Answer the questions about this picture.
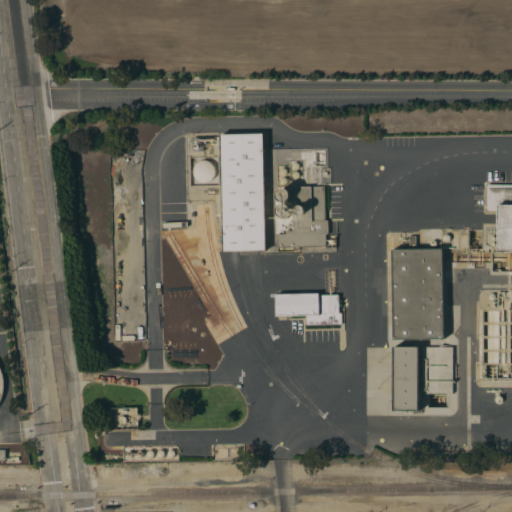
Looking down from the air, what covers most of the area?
paved ground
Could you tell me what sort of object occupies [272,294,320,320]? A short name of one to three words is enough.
building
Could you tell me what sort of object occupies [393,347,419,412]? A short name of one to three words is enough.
building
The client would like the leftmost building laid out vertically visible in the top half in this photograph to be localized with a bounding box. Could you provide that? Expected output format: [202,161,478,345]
[222,134,264,250]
